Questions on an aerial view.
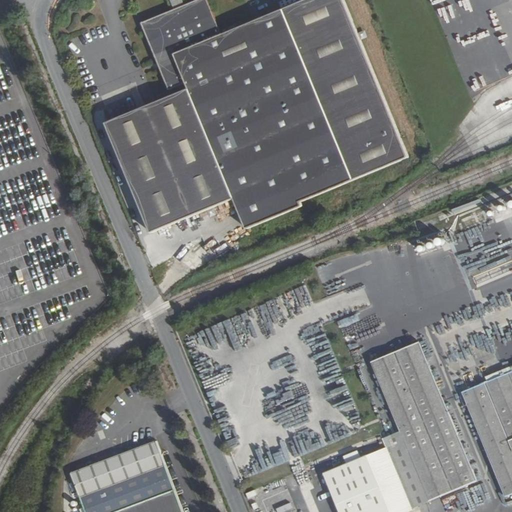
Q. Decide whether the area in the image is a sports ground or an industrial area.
industrial area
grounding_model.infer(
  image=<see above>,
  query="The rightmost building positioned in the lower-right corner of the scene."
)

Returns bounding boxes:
[460,370,512,496]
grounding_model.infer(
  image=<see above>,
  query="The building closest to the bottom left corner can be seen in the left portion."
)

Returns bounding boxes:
[70,440,183,512]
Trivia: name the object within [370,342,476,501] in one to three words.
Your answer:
building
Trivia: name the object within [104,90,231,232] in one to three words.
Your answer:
warehouse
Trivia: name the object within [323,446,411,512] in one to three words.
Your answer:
building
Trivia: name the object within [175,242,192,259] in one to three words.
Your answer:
vehicle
